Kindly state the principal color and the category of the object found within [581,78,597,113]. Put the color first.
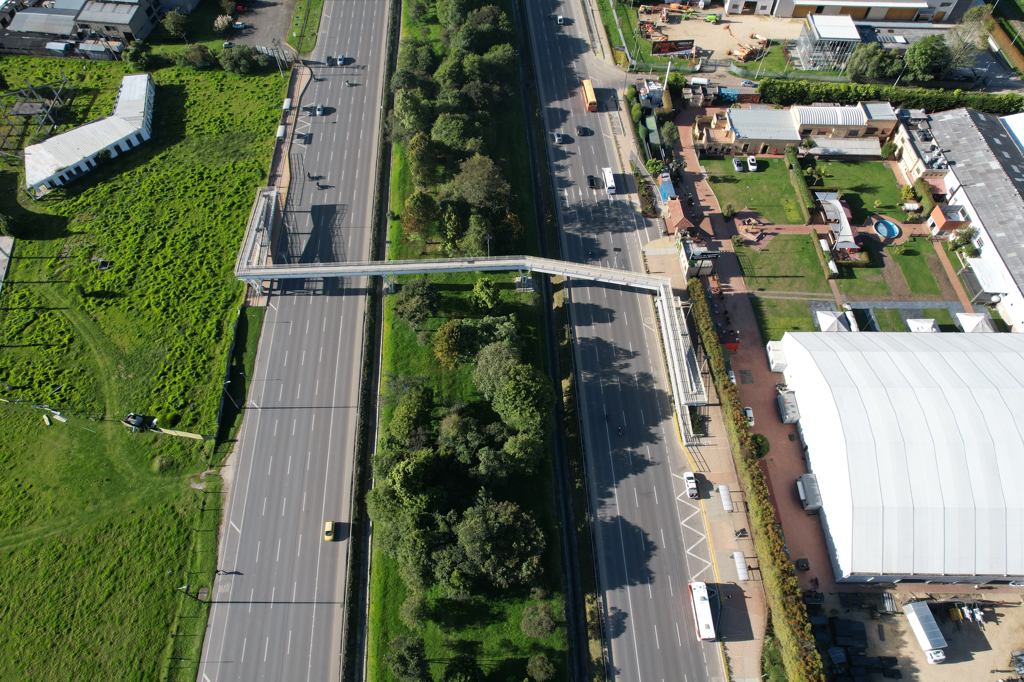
yellow vehicle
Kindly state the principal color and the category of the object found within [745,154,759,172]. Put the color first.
white car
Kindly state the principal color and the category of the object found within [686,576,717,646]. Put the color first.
white bus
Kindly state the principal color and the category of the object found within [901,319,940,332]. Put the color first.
white tent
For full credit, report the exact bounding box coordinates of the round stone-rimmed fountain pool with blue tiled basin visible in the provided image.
[872,220,900,242]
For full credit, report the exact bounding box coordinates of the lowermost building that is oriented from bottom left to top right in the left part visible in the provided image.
[23,72,155,199]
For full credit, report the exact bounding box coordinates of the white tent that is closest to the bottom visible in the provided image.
[782,331,1024,588]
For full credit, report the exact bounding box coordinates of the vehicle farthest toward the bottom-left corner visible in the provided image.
[323,520,336,543]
